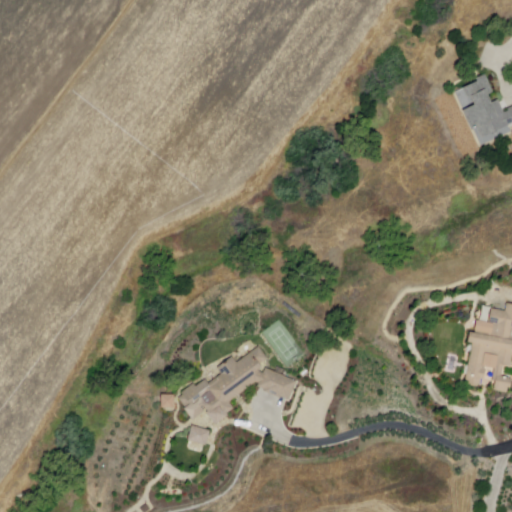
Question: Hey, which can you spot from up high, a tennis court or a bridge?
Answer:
tennis court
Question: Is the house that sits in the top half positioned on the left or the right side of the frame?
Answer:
right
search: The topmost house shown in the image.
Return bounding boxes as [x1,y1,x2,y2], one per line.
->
[456,76,512,145]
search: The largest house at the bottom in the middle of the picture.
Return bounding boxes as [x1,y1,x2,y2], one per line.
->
[177,348,300,426]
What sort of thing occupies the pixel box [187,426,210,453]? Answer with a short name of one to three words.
house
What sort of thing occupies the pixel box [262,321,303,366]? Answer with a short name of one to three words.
tennis court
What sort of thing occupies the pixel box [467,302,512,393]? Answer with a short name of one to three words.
house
